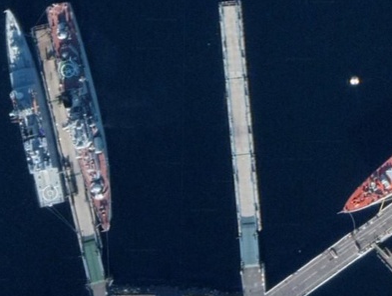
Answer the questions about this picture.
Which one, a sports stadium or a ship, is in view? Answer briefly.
ship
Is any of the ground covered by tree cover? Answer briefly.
No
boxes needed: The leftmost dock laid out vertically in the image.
[30,20,98,240]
